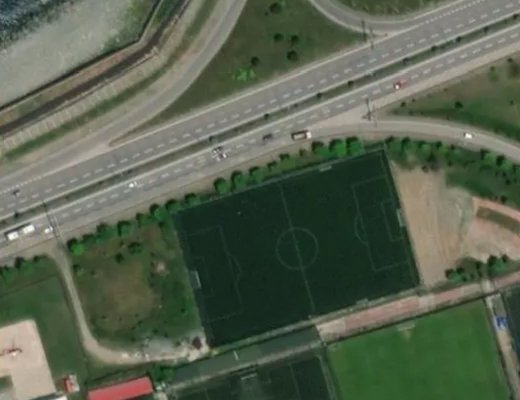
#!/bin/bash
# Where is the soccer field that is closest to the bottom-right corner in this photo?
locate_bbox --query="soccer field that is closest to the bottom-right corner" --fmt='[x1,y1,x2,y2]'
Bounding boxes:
[328,300,513,400]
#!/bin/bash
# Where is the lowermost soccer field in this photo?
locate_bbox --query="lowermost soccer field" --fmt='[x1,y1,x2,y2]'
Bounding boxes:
[176,354,331,400]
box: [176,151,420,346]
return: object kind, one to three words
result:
soccer field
